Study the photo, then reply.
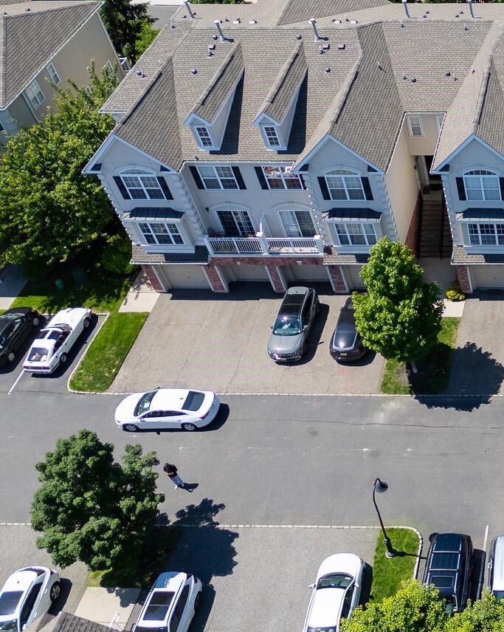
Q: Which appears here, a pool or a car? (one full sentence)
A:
This aerial view contains a car.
